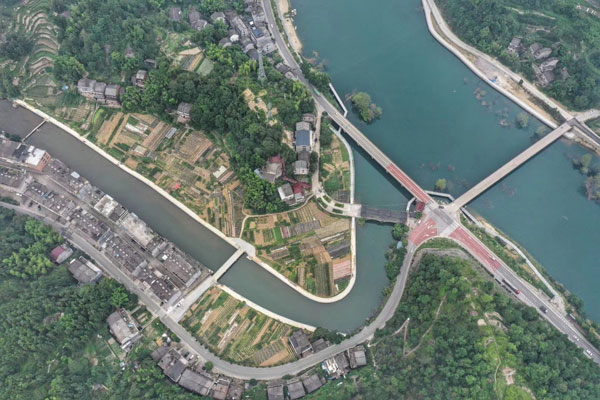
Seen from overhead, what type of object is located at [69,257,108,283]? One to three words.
house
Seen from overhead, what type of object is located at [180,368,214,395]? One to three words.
house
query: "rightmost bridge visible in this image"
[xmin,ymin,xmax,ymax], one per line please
[455,119,574,210]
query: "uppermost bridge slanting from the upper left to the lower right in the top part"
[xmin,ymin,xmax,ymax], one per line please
[326,106,429,205]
